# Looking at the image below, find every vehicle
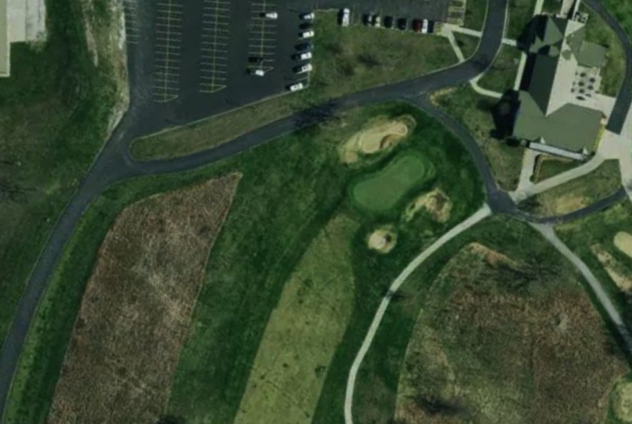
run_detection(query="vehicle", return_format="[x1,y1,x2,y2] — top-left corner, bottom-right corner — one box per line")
[374,15,379,28]
[422,20,427,32]
[415,20,420,32]
[429,20,434,32]
[300,52,313,60]
[302,12,314,20]
[248,57,260,62]
[266,12,277,17]
[303,31,314,37]
[365,13,372,27]
[290,83,303,91]
[300,23,312,29]
[252,69,265,75]
[343,9,349,25]
[301,65,313,72]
